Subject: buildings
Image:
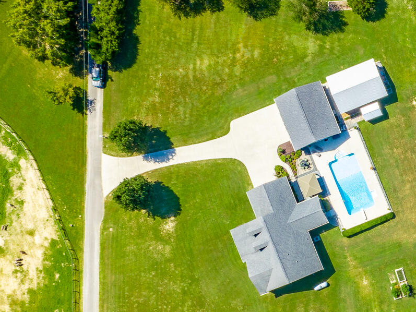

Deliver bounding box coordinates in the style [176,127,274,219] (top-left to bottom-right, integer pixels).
[229,175,330,296]
[274,81,342,151]
[361,102,382,120]
[326,58,388,113]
